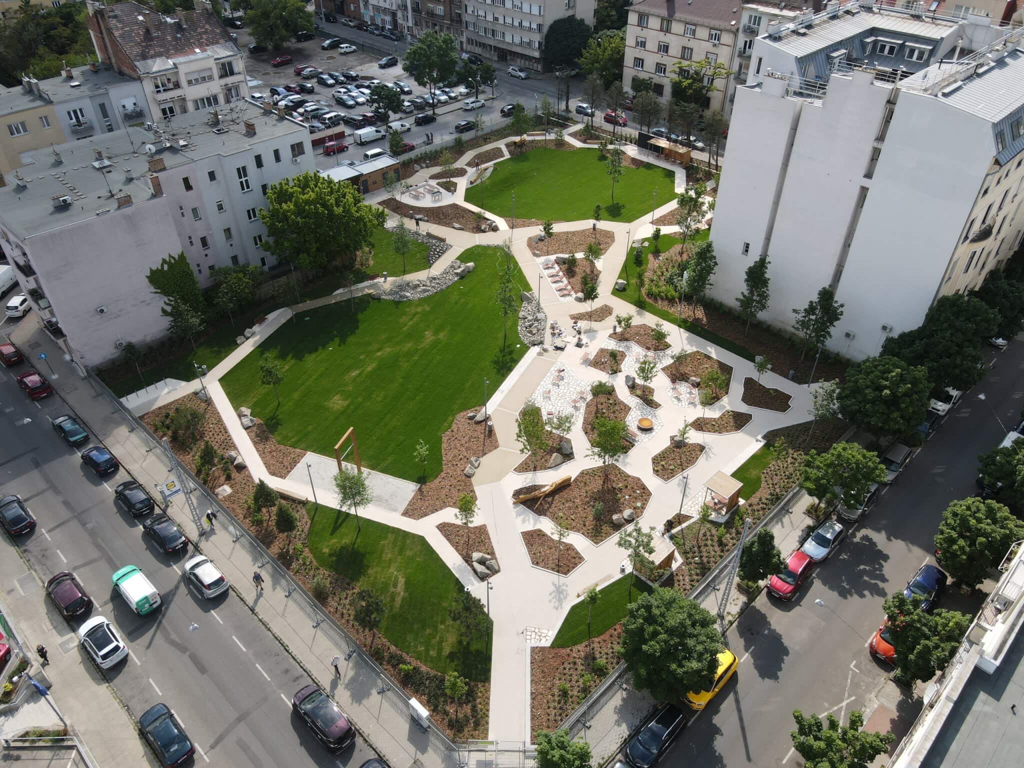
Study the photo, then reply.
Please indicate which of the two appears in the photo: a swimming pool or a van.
van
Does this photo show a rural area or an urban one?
urban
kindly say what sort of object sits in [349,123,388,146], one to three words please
car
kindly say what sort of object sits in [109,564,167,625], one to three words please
van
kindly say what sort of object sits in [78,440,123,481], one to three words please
car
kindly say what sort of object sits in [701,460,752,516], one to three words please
building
